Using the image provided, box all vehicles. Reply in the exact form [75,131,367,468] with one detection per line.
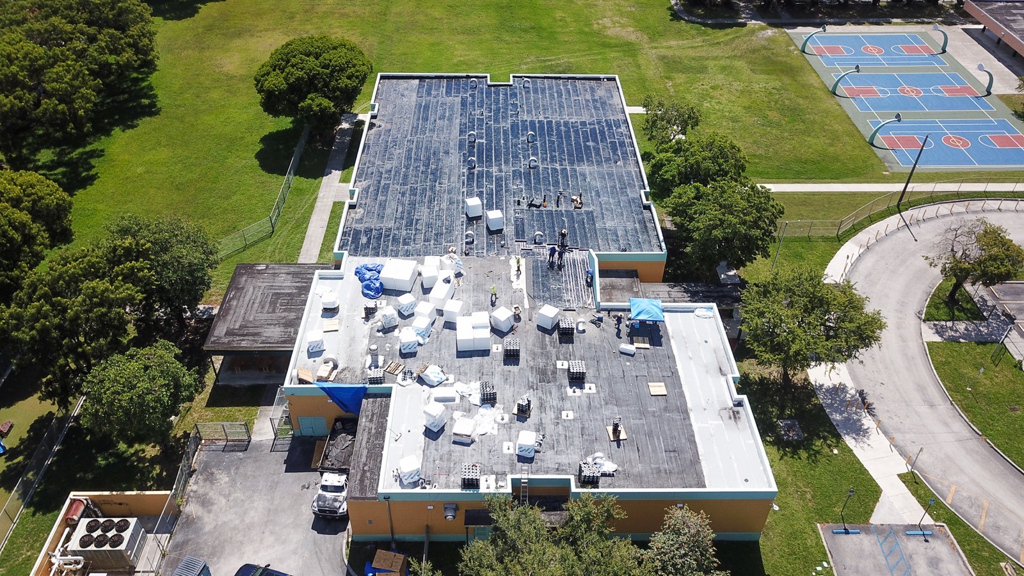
[234,564,290,576]
[313,416,352,522]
